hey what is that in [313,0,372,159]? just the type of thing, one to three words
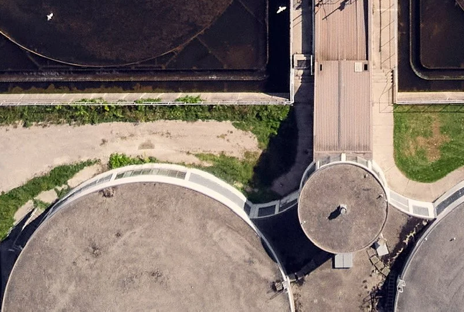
building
